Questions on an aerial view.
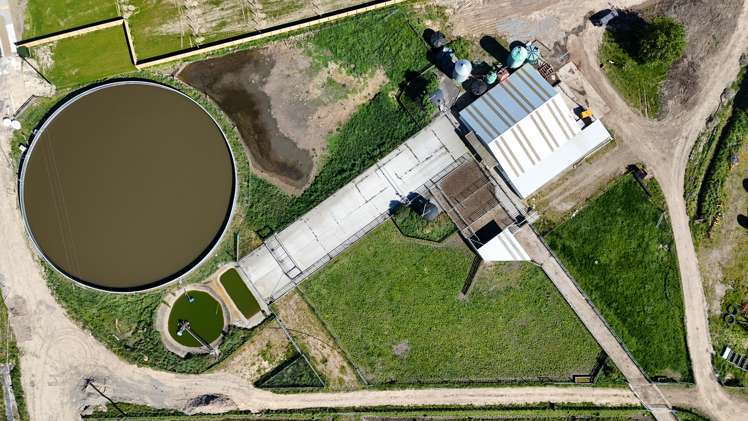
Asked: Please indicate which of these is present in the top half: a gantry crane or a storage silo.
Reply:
storage silo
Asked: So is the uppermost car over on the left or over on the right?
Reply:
right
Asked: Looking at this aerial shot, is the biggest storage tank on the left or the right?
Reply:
left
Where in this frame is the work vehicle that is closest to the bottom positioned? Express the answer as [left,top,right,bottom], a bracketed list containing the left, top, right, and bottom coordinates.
[576,105,595,120]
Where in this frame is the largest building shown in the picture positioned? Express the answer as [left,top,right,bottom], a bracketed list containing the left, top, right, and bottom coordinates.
[460,61,612,200]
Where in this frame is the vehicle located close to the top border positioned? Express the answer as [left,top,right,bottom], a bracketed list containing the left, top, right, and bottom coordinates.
[591,7,617,29]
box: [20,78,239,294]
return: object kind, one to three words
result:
storage tank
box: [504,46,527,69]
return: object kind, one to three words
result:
silo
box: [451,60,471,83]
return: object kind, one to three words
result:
silo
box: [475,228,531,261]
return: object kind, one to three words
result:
shed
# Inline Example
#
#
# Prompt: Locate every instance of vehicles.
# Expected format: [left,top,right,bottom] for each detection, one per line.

[591,7,617,29]
[576,105,595,120]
